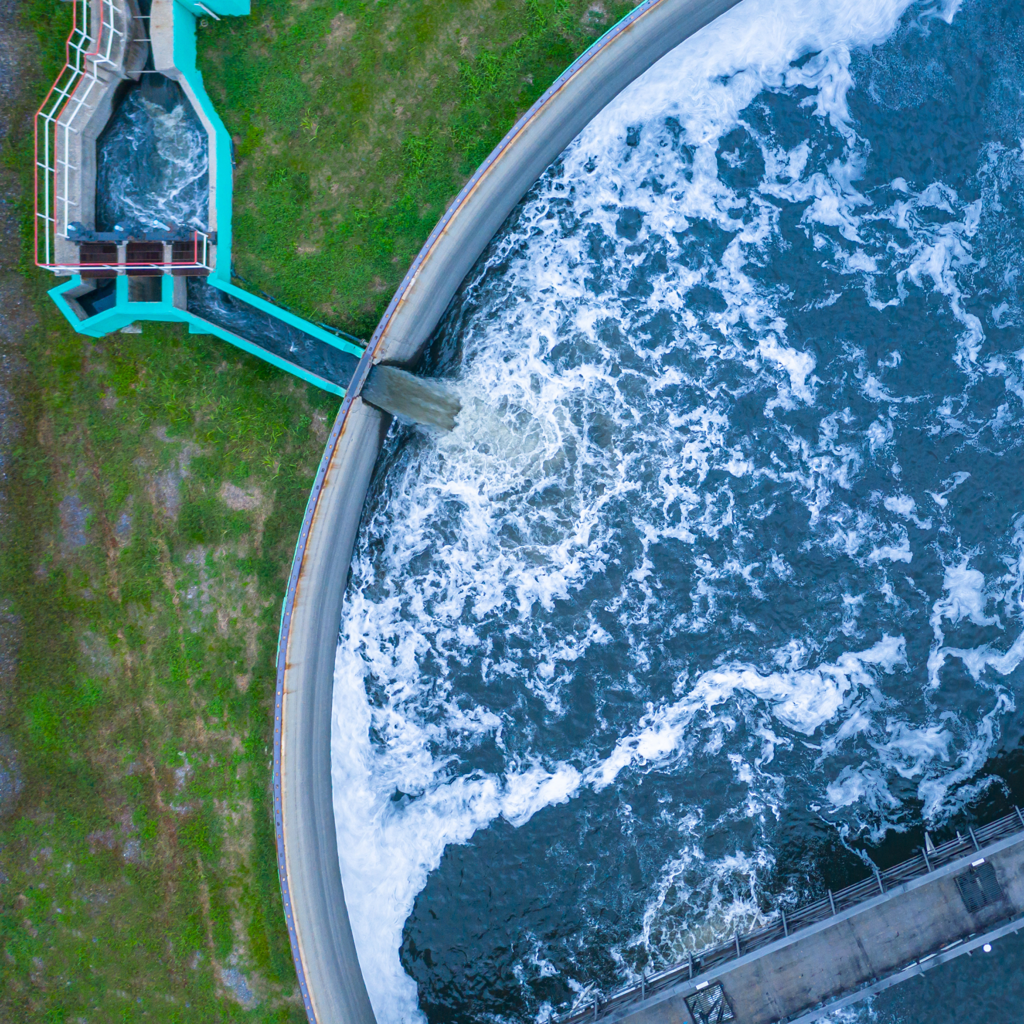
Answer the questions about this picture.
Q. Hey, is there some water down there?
Yes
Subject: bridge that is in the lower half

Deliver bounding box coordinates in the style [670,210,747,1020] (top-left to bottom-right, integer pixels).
[528,803,1024,1024]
